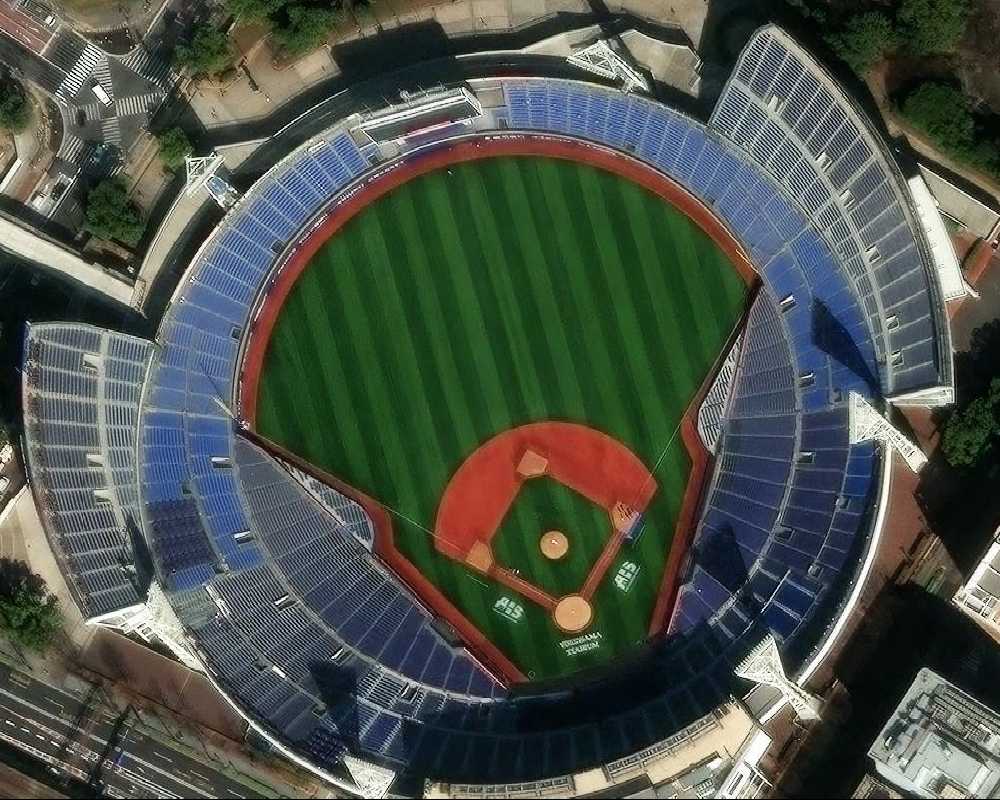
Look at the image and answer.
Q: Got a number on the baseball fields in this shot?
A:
1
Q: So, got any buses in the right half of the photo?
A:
No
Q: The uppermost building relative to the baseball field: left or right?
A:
right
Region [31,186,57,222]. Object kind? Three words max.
bus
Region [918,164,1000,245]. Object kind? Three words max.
building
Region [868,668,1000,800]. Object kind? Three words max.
building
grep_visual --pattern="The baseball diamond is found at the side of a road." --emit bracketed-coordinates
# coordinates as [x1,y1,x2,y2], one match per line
[240,140,763,703]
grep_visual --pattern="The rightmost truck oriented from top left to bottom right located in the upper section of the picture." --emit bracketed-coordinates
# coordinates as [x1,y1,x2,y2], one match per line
[90,83,111,106]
